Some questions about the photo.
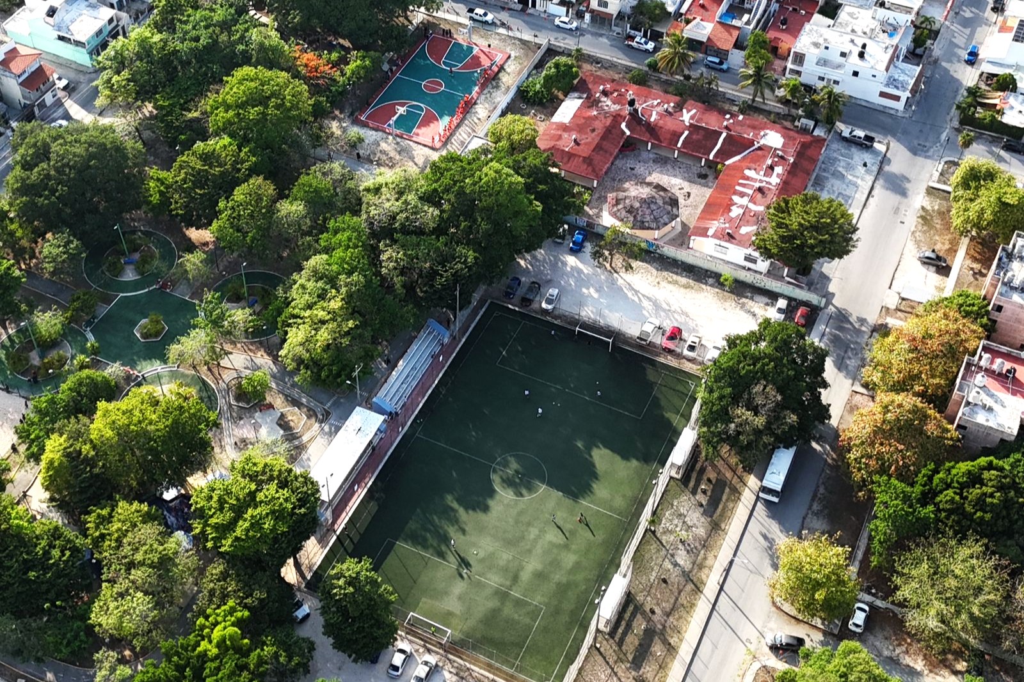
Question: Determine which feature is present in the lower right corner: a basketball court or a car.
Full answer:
Looking in the lower right corner, you will find a car.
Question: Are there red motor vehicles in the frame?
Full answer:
Yes, a red motor vehicle is visible in the scene.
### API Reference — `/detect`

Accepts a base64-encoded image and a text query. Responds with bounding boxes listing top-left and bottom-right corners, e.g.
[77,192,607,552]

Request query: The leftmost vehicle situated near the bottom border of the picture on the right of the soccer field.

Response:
[765,628,806,652]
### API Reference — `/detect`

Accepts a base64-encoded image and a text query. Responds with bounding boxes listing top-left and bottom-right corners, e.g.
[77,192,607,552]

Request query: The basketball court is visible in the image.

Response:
[349,29,511,150]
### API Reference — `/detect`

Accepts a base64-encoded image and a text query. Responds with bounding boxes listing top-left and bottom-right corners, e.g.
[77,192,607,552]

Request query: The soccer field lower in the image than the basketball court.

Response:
[308,301,705,682]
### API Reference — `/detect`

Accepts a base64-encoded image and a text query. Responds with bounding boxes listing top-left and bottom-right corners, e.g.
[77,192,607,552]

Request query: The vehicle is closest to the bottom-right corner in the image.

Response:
[848,599,872,632]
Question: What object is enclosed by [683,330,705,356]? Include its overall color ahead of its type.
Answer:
white car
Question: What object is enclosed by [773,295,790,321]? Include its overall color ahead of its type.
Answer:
white car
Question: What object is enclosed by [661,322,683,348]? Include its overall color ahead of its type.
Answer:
red car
